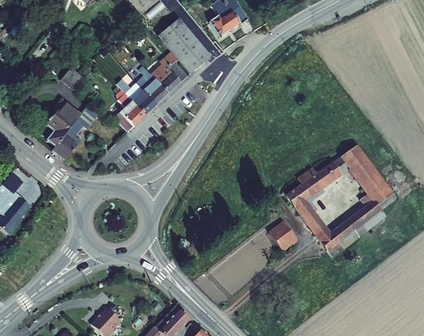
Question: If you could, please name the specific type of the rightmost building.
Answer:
residential house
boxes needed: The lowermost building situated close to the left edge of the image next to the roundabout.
[0,174,39,235]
